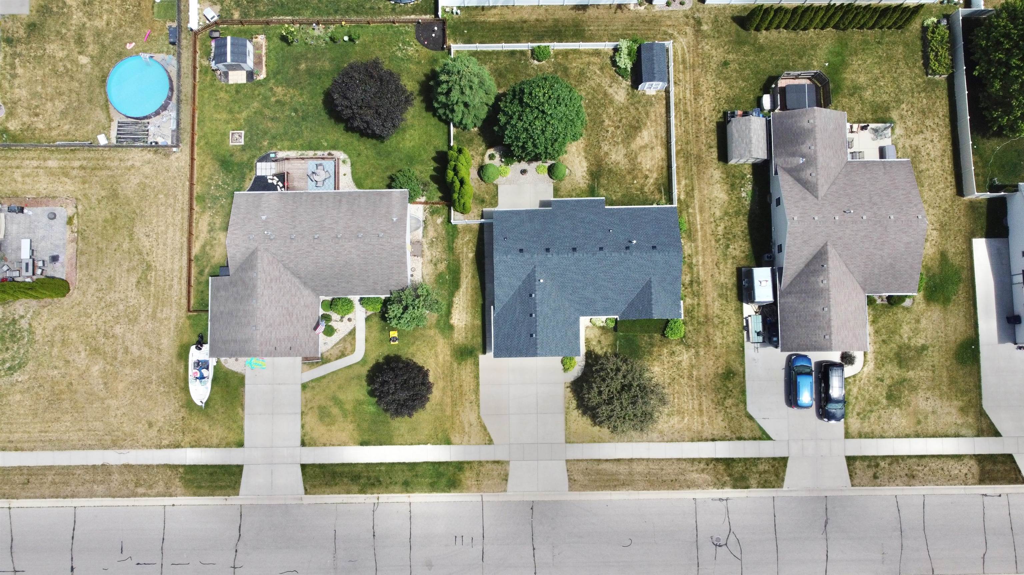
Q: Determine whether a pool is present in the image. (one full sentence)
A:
Yes, the picture does show a pool.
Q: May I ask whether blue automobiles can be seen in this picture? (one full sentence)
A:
Yes, there's a blue automobile here.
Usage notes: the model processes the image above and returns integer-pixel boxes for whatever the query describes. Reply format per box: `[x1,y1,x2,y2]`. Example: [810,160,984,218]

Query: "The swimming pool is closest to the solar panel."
[106,55,175,121]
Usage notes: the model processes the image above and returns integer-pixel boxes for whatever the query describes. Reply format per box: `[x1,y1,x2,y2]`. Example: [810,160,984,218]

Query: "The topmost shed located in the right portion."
[639,34,670,89]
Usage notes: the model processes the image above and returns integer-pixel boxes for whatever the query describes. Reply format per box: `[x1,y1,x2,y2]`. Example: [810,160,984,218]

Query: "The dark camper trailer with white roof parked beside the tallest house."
[737,264,774,315]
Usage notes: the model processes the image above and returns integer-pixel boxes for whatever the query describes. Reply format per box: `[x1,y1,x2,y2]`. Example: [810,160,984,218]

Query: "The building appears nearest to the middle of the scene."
[491,196,685,359]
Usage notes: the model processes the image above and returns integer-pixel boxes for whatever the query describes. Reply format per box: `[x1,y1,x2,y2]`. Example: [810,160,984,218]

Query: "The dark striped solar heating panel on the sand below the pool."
[116,120,149,144]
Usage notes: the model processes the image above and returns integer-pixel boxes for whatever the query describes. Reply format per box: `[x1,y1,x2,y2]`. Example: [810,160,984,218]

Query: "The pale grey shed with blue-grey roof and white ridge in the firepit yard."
[209,32,250,69]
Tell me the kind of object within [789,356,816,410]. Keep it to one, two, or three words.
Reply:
car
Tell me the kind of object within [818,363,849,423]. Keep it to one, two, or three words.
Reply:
car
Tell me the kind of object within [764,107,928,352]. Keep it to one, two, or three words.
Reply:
house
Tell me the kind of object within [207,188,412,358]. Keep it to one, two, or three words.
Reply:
house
